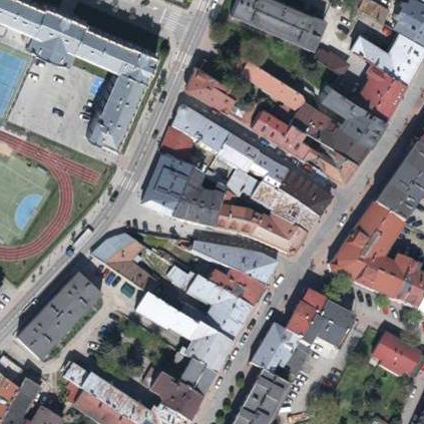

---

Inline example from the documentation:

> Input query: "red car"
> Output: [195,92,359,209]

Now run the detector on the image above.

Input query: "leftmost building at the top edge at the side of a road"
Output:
[0,0,158,153]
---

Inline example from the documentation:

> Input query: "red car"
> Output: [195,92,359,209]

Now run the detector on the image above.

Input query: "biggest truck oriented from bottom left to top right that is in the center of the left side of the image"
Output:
[68,225,96,255]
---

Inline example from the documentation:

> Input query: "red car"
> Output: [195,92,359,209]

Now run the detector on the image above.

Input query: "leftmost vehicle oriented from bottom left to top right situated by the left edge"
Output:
[21,297,38,314]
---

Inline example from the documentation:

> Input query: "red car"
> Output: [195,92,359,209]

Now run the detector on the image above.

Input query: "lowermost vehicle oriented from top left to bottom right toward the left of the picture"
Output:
[0,355,23,373]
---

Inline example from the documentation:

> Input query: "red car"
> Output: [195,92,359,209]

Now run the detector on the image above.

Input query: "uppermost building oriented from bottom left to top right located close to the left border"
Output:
[17,271,102,360]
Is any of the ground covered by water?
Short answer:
No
